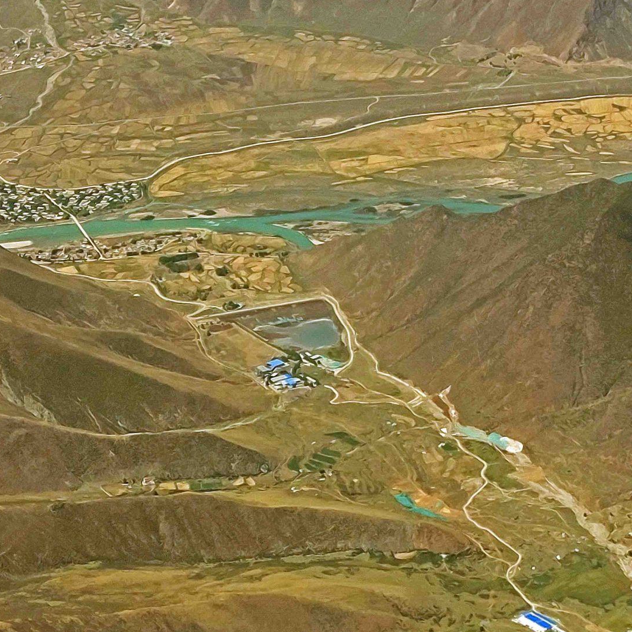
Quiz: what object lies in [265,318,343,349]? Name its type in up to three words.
pond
